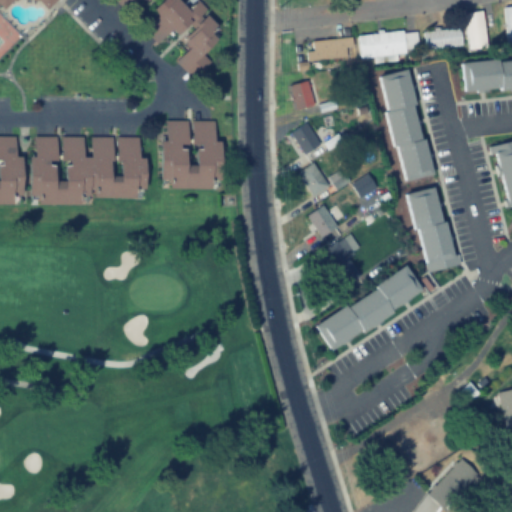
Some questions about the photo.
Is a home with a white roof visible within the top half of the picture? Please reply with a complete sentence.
Yes, a home with a white roof can be seen within the top half of the picture.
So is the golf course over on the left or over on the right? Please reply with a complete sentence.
It is on the left.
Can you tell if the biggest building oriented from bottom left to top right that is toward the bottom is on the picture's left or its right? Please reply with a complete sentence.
You can find the biggest building oriented from bottom left to top right that is toward the bottom on the right side of the picture.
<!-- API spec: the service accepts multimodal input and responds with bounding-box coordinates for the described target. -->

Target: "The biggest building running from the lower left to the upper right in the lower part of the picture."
[314,266,424,350]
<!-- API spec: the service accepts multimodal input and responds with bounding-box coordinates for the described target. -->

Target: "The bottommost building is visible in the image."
[430,460,480,510]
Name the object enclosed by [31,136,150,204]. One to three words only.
building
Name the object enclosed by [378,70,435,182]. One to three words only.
building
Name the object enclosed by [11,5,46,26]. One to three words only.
swimming pool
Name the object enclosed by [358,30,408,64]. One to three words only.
house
